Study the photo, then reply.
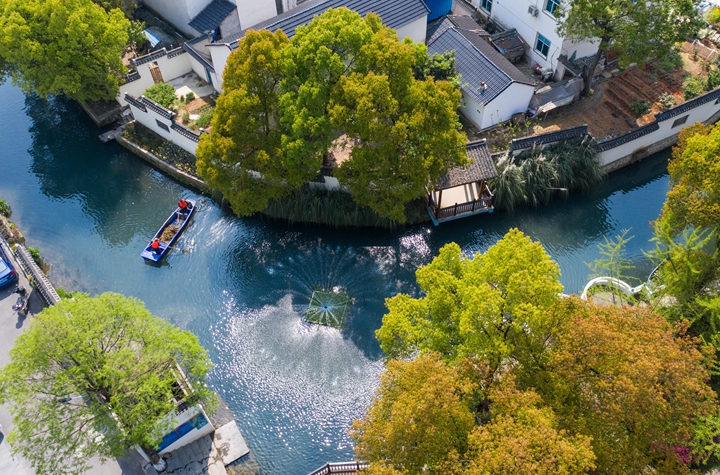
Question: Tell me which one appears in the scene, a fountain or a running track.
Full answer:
I can see a fountain in this picture.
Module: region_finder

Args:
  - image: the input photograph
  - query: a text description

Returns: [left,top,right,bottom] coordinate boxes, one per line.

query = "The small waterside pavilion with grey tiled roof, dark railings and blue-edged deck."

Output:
[418,141,501,225]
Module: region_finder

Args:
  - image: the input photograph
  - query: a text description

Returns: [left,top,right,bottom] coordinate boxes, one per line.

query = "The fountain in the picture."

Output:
[235,239,396,391]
